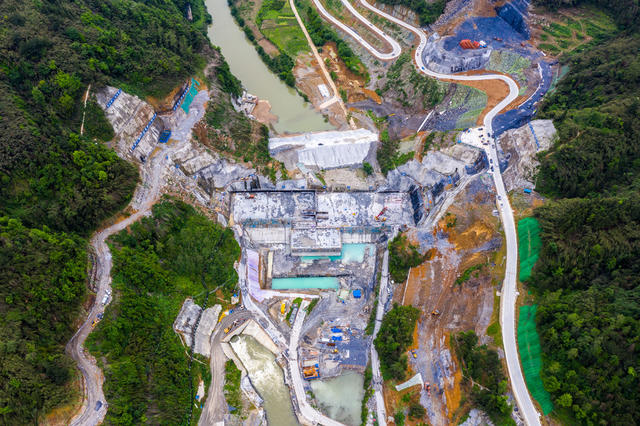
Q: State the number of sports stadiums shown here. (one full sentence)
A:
The photo contains no sports stadiums.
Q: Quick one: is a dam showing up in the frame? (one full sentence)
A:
Yes, there is a dam in the image.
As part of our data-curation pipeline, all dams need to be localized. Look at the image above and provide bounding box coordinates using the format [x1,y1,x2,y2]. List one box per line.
[232,191,411,254]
